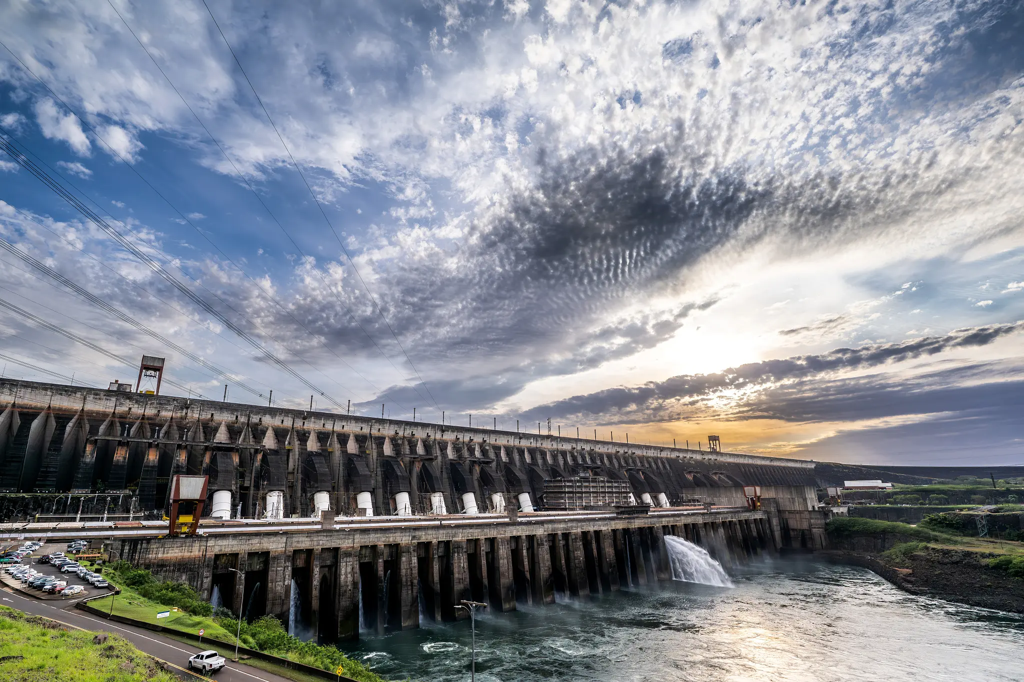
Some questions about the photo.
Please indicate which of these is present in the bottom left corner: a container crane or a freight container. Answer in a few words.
container crane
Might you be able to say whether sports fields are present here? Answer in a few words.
No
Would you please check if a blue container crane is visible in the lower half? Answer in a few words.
No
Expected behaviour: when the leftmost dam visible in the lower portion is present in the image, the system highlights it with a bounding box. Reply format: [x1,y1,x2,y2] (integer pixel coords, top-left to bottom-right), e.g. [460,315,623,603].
[0,378,835,518]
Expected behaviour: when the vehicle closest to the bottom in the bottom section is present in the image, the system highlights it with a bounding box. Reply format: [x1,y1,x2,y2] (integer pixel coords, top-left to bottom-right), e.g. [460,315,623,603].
[191,652,225,675]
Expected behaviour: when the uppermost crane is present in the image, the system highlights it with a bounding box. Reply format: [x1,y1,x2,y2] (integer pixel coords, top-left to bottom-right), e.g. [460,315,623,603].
[136,354,168,394]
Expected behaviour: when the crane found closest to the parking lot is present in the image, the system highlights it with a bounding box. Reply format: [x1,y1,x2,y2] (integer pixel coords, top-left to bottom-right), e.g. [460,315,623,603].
[157,474,212,533]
